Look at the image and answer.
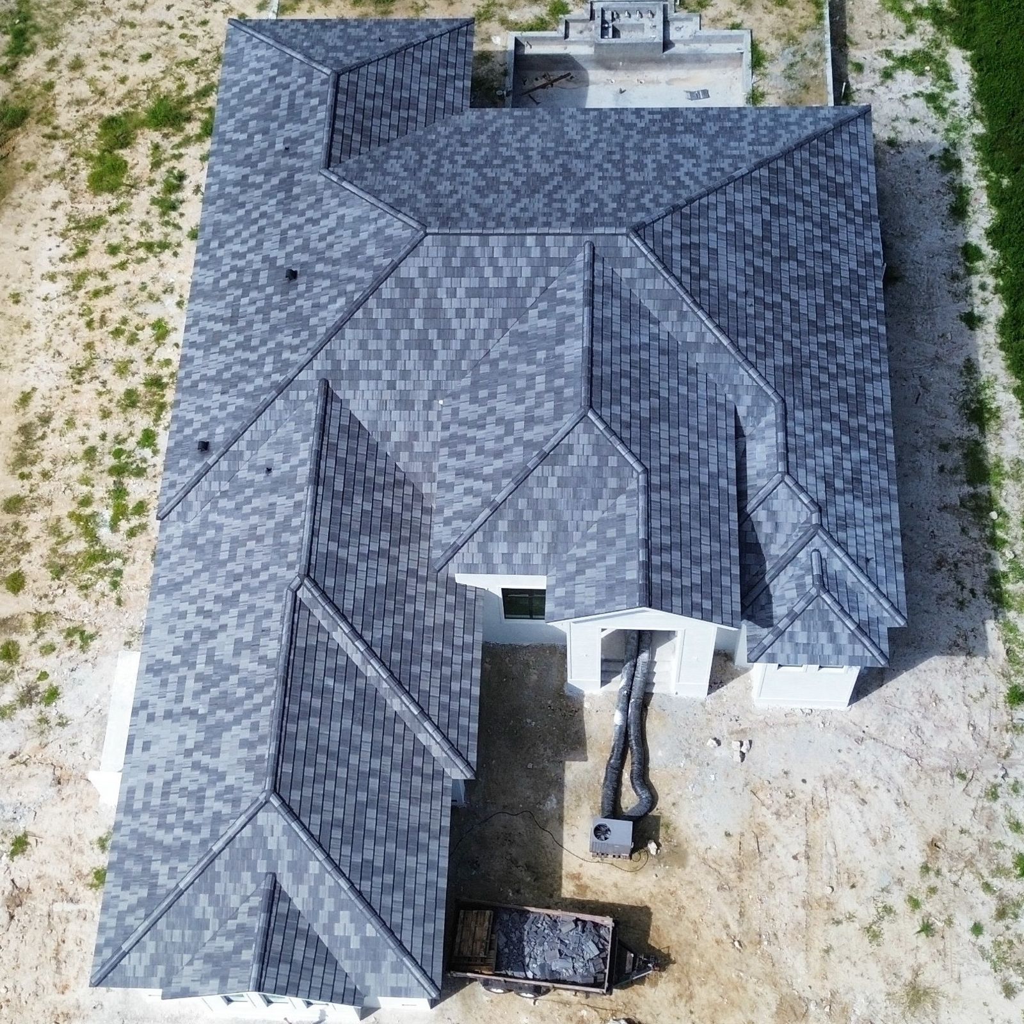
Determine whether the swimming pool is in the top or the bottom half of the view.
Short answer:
top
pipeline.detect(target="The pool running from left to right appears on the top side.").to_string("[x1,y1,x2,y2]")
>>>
[505,0,754,106]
